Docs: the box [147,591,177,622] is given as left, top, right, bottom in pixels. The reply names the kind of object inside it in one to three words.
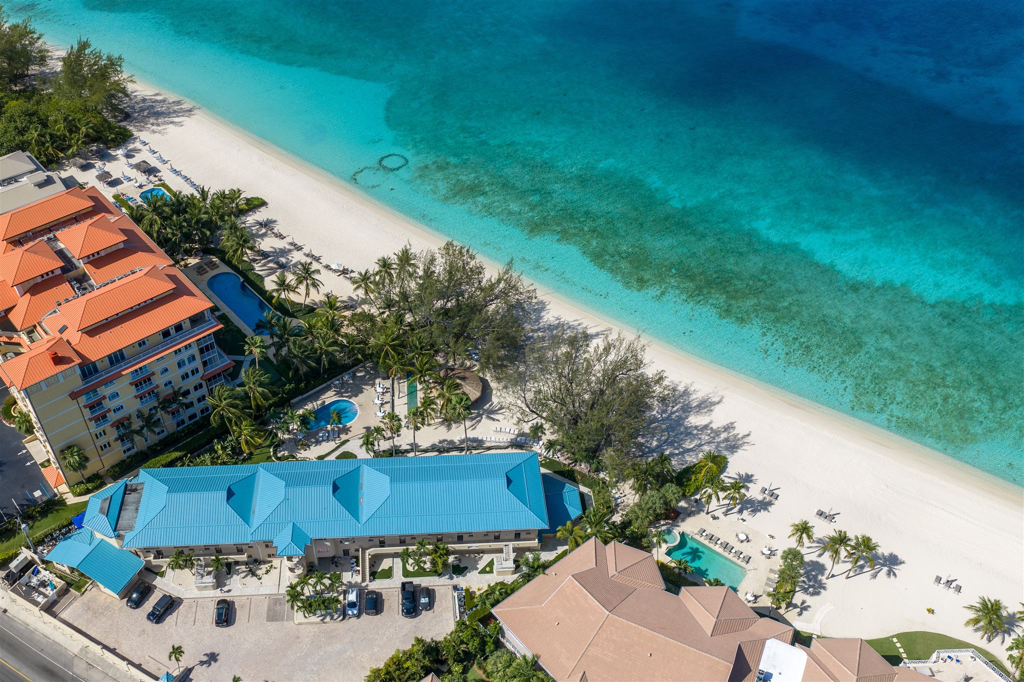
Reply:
car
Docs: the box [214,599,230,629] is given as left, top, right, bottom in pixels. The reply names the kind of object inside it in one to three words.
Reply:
car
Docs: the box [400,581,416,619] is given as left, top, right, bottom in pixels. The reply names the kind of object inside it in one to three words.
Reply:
vehicle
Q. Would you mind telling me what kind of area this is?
beach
